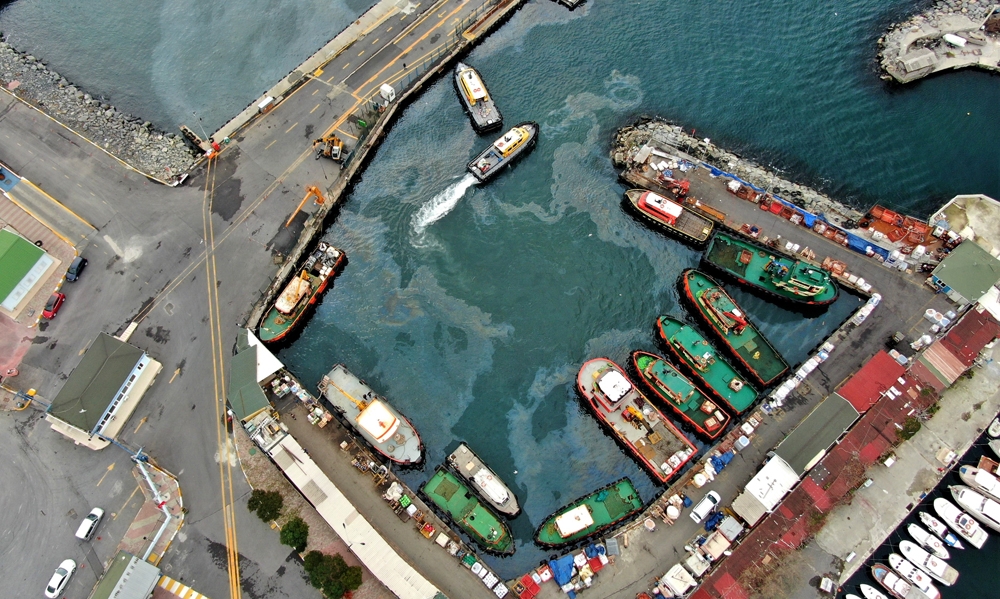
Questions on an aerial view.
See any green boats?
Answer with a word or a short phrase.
Yes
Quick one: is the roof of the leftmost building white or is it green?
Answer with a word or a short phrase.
green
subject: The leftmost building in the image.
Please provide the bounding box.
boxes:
[0,229,61,321]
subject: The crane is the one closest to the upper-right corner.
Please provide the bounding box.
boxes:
[652,157,698,194]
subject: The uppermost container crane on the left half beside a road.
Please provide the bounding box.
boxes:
[286,183,328,226]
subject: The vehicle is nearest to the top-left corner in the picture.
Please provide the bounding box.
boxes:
[63,253,91,283]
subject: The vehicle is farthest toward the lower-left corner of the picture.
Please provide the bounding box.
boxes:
[42,558,79,599]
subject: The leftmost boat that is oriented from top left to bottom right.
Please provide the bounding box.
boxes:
[310,367,426,468]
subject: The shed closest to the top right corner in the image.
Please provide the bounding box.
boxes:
[895,48,938,81]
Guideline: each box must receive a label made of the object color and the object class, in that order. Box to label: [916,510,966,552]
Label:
white boat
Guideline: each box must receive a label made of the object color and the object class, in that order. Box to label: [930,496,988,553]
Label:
white boat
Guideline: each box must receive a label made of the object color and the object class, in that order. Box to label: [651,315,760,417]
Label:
green boat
